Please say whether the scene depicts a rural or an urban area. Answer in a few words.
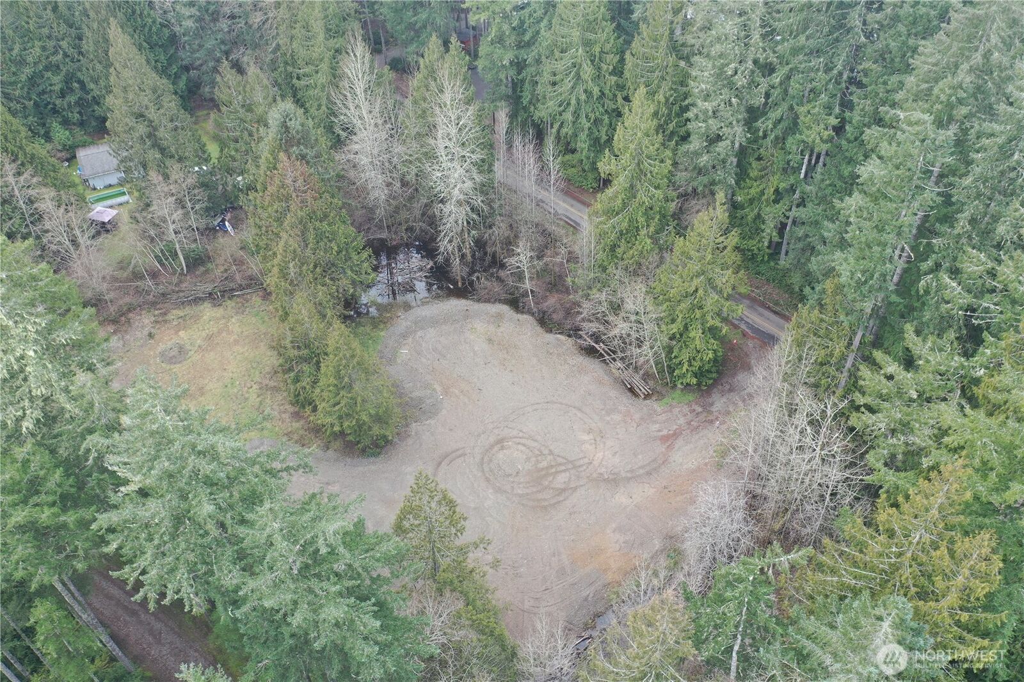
rural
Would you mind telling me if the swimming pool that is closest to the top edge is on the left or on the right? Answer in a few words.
left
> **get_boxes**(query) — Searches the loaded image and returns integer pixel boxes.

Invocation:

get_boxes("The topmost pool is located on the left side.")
[87,188,129,209]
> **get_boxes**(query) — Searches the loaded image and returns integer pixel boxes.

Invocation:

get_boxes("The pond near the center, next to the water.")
[354,236,633,393]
